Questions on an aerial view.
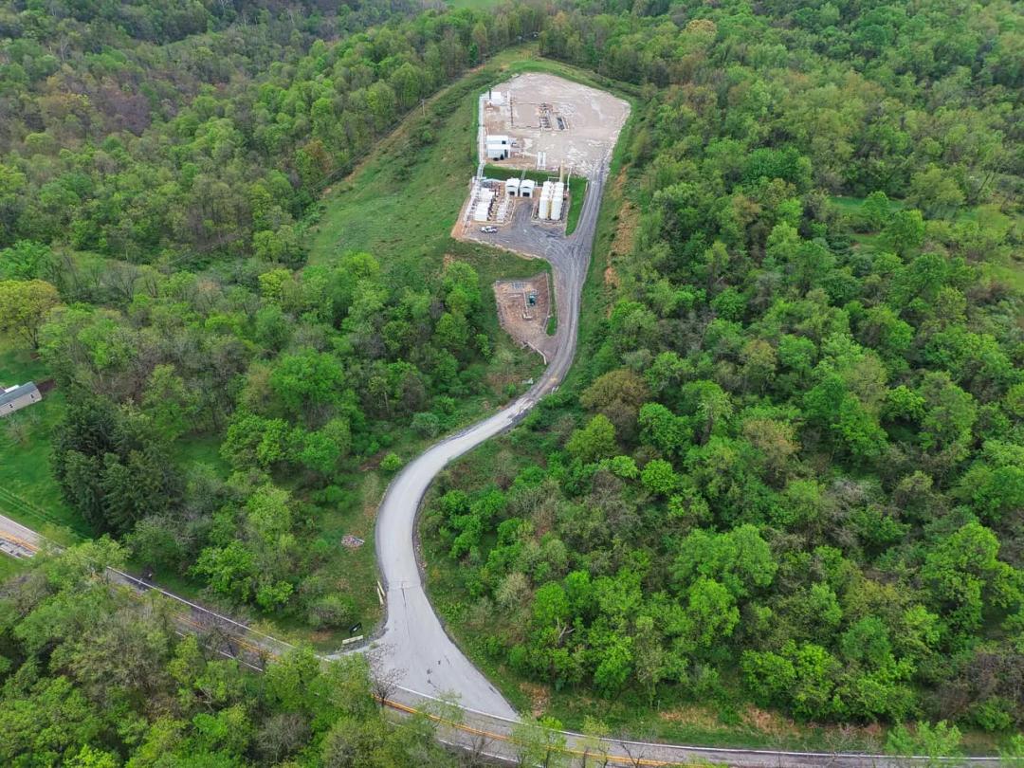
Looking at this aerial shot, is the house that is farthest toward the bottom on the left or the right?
left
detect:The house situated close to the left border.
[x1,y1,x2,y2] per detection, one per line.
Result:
[0,382,42,416]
